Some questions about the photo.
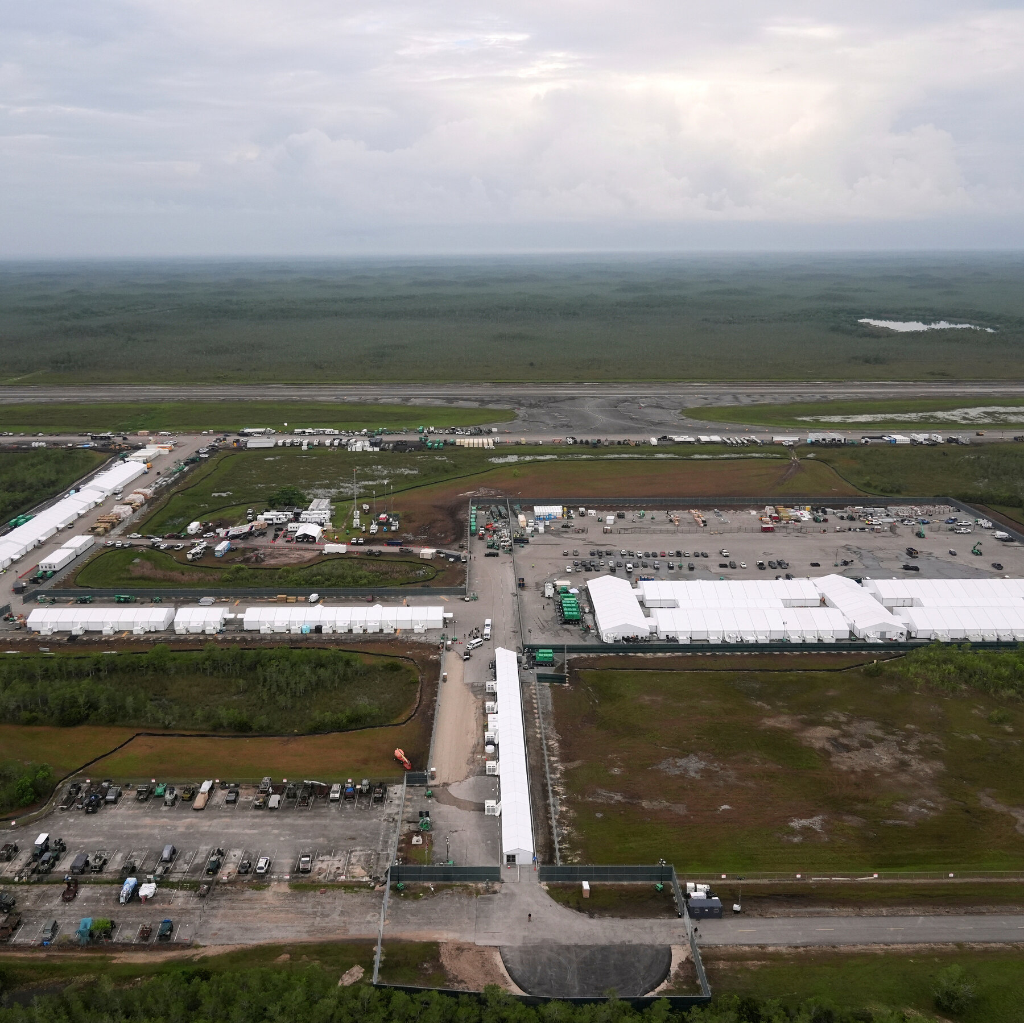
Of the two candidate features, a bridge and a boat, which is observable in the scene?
boat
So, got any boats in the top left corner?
No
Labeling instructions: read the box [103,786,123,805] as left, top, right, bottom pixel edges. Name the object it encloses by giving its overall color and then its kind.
gray vehicle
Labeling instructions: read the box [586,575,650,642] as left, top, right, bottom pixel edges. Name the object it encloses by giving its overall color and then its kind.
white tent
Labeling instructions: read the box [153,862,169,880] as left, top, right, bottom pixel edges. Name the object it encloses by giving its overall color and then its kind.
gray boat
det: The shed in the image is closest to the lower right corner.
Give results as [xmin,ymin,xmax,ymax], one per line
[685,890,728,921]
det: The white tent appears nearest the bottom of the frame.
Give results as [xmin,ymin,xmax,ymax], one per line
[494,647,533,866]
